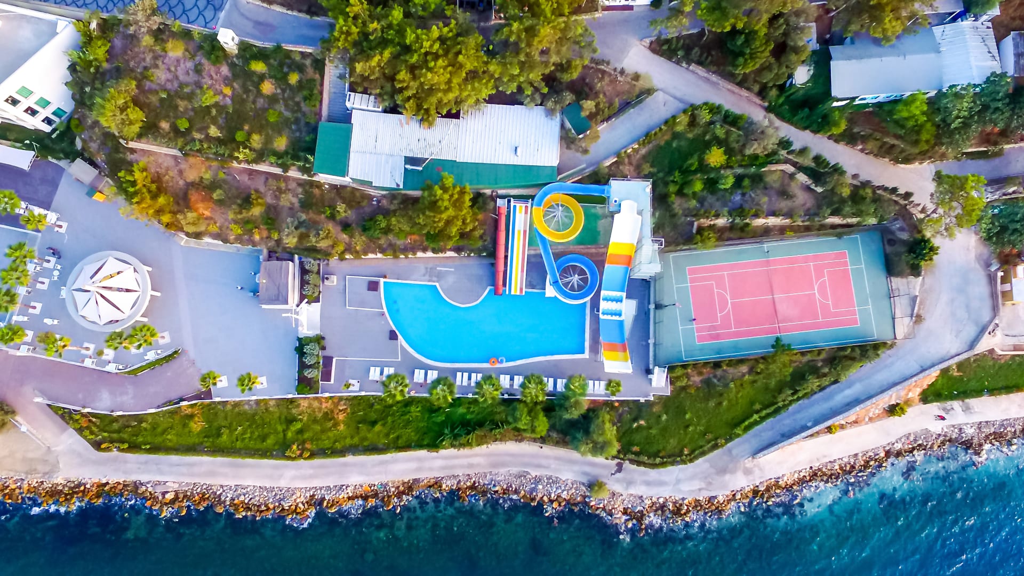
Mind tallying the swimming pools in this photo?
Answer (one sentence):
There is 1 swimming pool in the image.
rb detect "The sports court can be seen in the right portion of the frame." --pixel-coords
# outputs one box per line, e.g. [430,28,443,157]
[657,231,894,366]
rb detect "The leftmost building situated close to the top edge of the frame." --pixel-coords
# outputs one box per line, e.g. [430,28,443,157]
[0,3,101,135]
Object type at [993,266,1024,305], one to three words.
house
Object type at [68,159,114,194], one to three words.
shed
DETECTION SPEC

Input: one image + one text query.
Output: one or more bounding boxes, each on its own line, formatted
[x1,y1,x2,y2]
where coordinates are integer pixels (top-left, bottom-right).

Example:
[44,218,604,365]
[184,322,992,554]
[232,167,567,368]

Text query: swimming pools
[378,277,593,370]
